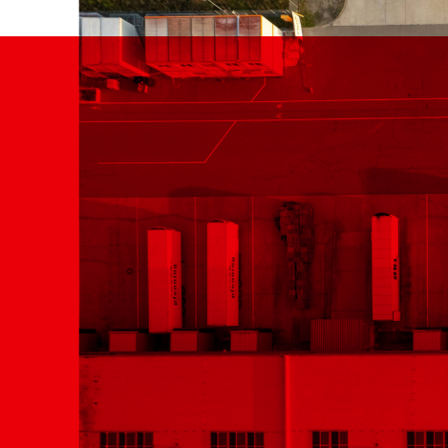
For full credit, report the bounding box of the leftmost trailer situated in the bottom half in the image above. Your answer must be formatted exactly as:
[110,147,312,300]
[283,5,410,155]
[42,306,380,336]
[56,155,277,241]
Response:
[147,227,185,332]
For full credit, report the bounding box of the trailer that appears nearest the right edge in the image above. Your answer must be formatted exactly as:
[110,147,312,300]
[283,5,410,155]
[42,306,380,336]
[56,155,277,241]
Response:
[371,212,402,321]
